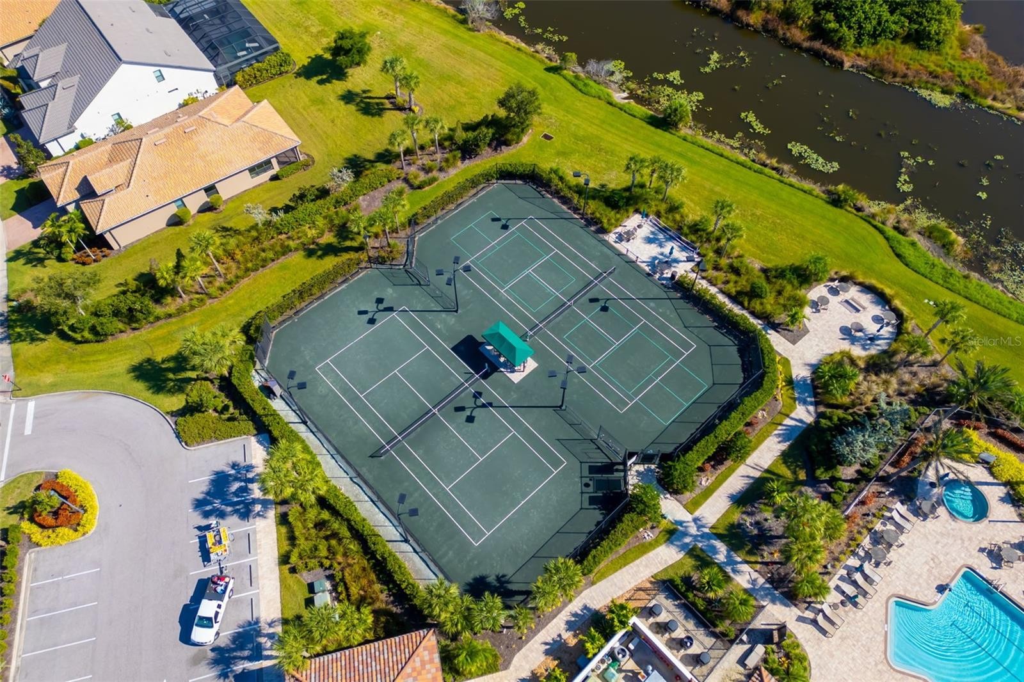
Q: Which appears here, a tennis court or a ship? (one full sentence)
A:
It is a tennis court that can be seen here.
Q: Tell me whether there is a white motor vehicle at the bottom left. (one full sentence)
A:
Yes, a white motor vehicle can be seen at the bottom left.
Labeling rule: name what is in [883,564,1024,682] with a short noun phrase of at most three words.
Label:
swimming pool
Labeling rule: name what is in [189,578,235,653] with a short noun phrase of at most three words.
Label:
truck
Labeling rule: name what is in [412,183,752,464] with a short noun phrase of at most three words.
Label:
tennis court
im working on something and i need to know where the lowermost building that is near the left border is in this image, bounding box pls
[38,85,303,246]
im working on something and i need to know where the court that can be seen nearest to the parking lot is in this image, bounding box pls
[266,268,627,605]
